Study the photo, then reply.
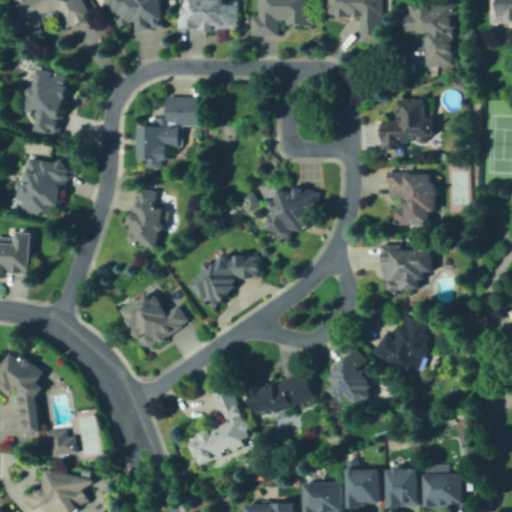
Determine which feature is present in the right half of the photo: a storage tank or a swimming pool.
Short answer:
swimming pool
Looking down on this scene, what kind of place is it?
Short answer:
residential area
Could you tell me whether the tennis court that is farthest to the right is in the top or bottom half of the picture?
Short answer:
top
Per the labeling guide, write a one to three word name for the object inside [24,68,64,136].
house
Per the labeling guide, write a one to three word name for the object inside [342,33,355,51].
vehicle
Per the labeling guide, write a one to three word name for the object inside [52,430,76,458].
building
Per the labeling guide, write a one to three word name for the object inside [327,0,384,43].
house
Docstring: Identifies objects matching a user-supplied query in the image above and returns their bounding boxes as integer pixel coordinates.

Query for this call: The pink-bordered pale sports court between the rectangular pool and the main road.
[78,410,102,460]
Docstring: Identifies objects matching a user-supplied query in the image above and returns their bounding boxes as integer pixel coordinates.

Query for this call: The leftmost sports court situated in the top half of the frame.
[450,165,472,214]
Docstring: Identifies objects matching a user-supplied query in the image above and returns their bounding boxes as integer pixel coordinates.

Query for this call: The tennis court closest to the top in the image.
[486,100,512,183]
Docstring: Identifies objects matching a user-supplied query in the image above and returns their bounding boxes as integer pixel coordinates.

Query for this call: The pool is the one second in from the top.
[437,270,456,304]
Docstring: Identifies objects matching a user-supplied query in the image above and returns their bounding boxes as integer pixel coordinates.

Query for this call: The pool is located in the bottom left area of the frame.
[52,392,74,430]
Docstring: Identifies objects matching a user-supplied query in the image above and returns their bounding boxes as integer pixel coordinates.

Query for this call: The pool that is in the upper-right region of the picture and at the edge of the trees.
[438,88,462,116]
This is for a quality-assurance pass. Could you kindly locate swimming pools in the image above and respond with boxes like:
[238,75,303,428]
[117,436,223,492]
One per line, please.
[438,88,462,116]
[52,392,74,430]
[437,270,456,304]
